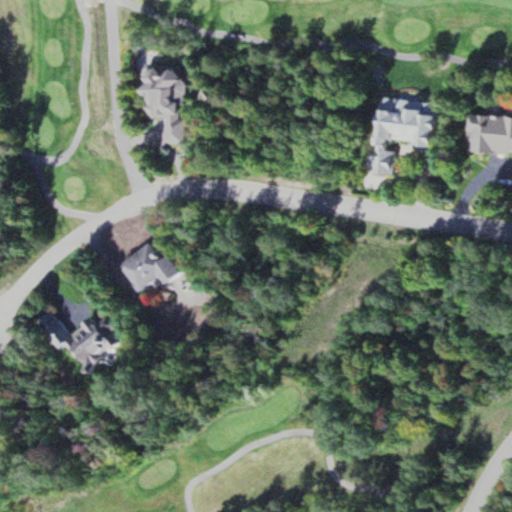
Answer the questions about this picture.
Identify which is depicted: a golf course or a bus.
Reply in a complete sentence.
The one in the frame is a golf course.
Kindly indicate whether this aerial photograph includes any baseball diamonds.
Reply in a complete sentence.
No, no baseball diamond is visible in the view.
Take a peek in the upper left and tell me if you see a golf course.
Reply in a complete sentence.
Yes, you'll find a golf course in the upper left.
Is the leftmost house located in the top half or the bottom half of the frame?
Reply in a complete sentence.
It is in the bottom half that the leftmost house appears.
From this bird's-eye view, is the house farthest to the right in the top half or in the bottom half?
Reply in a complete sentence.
Seen from above, the house farthest to the right lies in the top half of the view.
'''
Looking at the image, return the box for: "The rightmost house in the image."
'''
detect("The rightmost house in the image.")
[467,112,512,150]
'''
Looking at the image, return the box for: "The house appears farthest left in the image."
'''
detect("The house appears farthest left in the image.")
[36,314,118,378]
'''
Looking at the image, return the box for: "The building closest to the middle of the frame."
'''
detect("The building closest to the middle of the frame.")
[119,246,182,291]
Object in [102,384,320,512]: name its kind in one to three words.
golf course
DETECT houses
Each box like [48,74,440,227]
[119,246,182,291]
[467,112,512,150]
[36,314,118,378]
[134,64,186,144]
[370,96,434,172]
